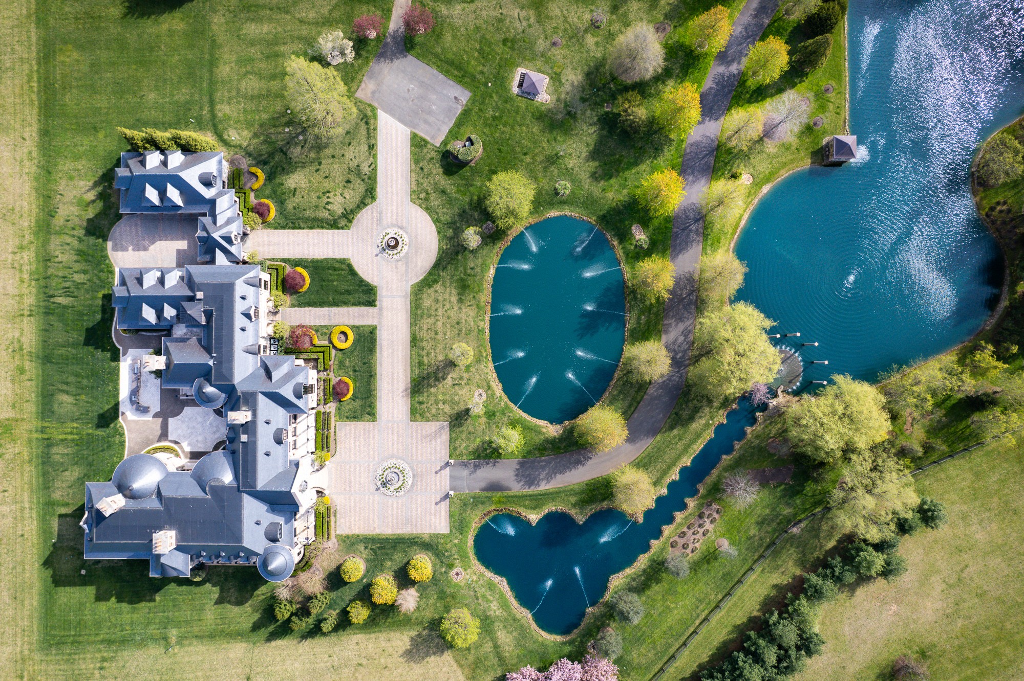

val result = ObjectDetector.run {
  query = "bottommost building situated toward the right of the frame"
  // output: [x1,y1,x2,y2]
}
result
[819,135,856,167]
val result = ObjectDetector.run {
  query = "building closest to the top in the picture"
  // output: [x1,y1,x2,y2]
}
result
[512,69,547,97]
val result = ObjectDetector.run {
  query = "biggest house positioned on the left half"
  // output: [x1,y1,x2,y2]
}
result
[76,264,329,583]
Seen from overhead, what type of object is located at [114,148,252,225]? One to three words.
house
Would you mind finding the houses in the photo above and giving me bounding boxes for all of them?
[114,148,252,225]
[76,264,329,583]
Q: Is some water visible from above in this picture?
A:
Yes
